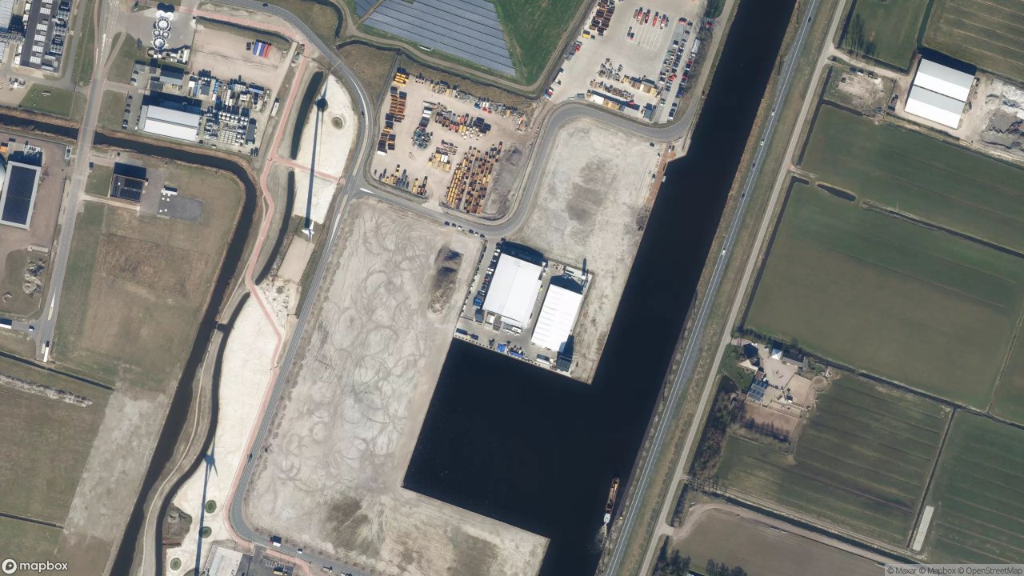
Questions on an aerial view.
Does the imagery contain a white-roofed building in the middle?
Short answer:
Yes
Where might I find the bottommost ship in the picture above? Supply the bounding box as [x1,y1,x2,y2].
[603,478,618,525]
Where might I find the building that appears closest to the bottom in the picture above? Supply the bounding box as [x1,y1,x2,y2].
[203,546,242,576]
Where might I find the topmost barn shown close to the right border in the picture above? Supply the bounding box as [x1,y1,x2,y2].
[914,58,975,102]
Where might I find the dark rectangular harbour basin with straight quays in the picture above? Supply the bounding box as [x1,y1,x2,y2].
[401,337,593,541]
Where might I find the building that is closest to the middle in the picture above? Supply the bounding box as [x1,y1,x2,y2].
[483,253,543,323]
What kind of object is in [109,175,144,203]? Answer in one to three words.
shed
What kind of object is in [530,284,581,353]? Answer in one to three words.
building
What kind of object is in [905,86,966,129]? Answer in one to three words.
barn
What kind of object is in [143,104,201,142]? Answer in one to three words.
building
